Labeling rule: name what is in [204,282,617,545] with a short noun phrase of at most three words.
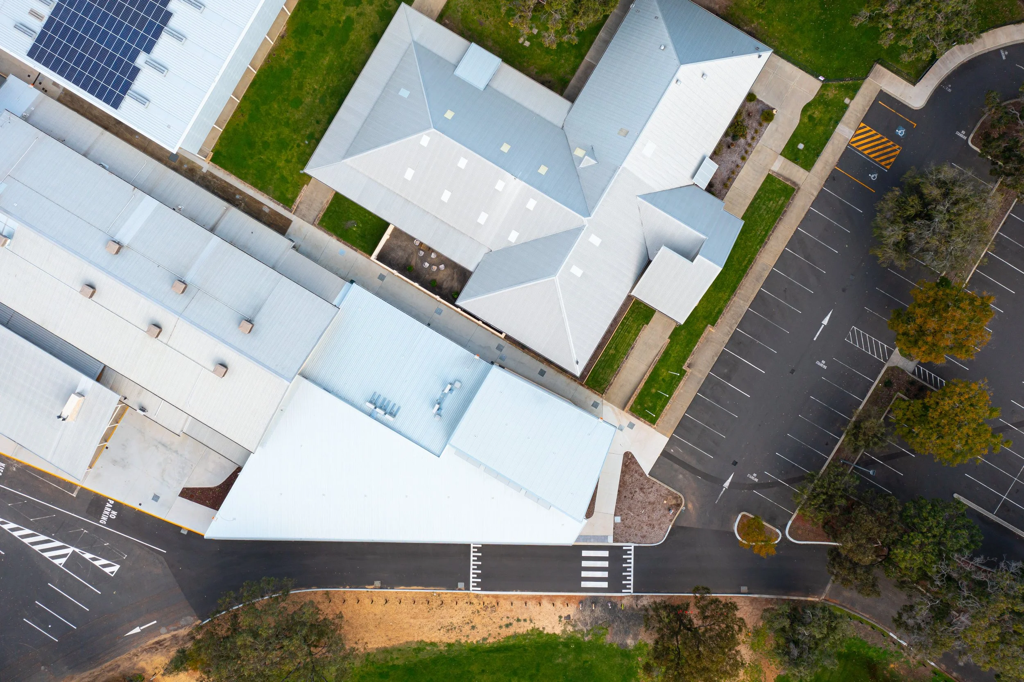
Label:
building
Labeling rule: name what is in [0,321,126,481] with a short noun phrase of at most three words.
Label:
building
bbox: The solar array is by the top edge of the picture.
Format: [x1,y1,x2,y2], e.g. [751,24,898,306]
[27,0,179,109]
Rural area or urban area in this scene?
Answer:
urban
